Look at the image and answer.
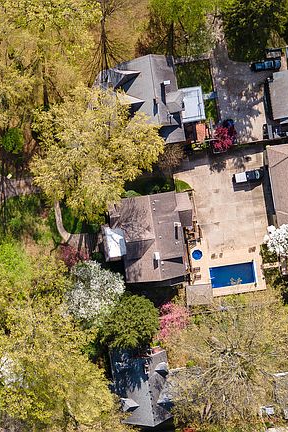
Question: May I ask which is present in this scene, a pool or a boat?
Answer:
pool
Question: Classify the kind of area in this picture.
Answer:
residential area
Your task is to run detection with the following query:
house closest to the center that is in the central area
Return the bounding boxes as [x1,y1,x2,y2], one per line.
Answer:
[105,192,192,282]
